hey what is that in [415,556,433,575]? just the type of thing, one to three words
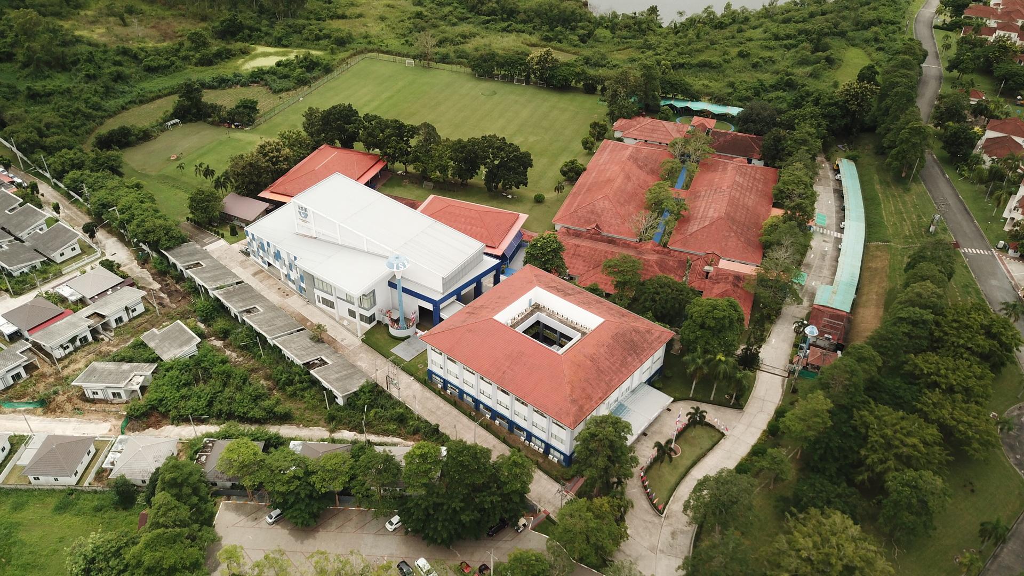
car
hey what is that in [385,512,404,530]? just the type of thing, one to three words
car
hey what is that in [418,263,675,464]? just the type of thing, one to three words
building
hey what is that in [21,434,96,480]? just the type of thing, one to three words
house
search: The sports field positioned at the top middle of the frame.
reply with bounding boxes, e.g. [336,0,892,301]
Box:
[259,57,608,213]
